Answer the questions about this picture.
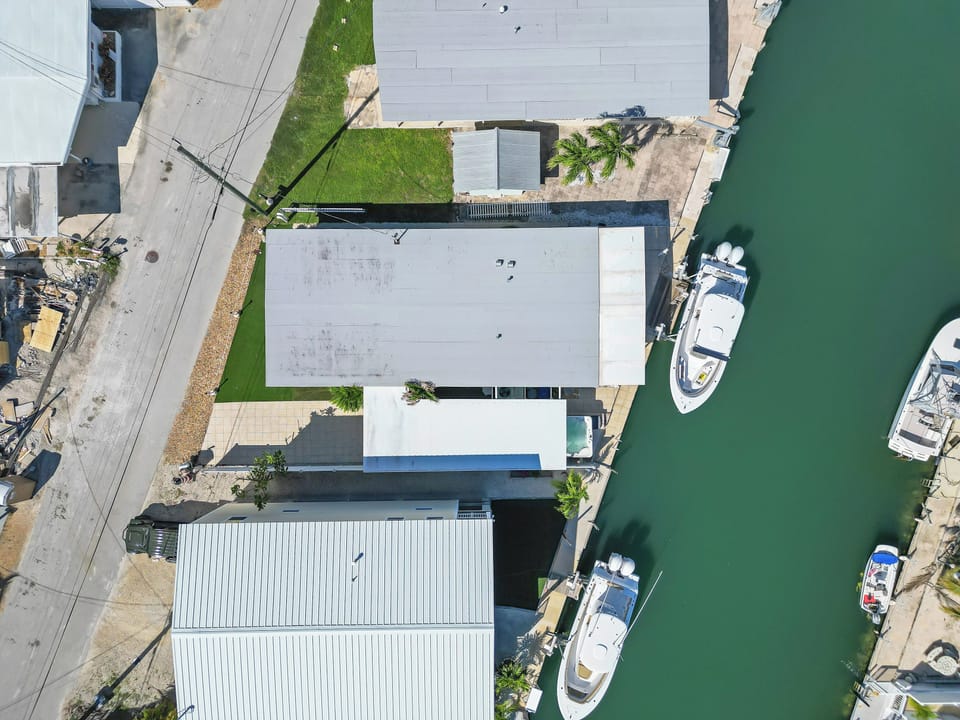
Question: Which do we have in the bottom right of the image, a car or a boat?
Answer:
boat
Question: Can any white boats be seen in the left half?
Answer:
No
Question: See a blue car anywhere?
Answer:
No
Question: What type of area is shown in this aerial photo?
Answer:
residential area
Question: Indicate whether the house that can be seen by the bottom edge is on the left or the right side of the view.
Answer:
left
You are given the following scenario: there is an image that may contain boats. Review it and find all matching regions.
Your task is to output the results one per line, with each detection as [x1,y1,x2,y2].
[668,234,748,413]
[560,542,662,720]
[857,541,899,622]
[885,311,960,468]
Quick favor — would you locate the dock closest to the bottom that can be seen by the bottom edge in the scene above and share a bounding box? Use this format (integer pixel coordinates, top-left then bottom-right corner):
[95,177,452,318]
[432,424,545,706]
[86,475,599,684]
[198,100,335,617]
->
[843,672,907,720]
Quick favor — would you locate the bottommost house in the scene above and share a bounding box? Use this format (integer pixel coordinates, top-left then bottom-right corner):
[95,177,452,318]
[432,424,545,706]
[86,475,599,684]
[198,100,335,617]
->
[171,503,500,720]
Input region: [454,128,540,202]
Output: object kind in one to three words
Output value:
shed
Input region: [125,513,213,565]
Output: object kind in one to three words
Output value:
car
